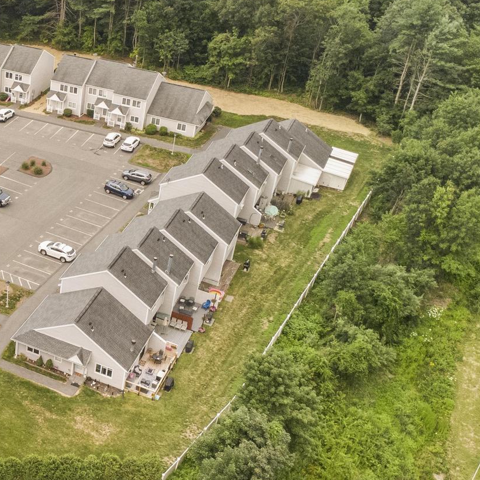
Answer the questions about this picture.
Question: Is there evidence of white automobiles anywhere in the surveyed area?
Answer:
Yes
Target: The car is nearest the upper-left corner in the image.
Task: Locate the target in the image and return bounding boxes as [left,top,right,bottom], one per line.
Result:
[0,107,16,122]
